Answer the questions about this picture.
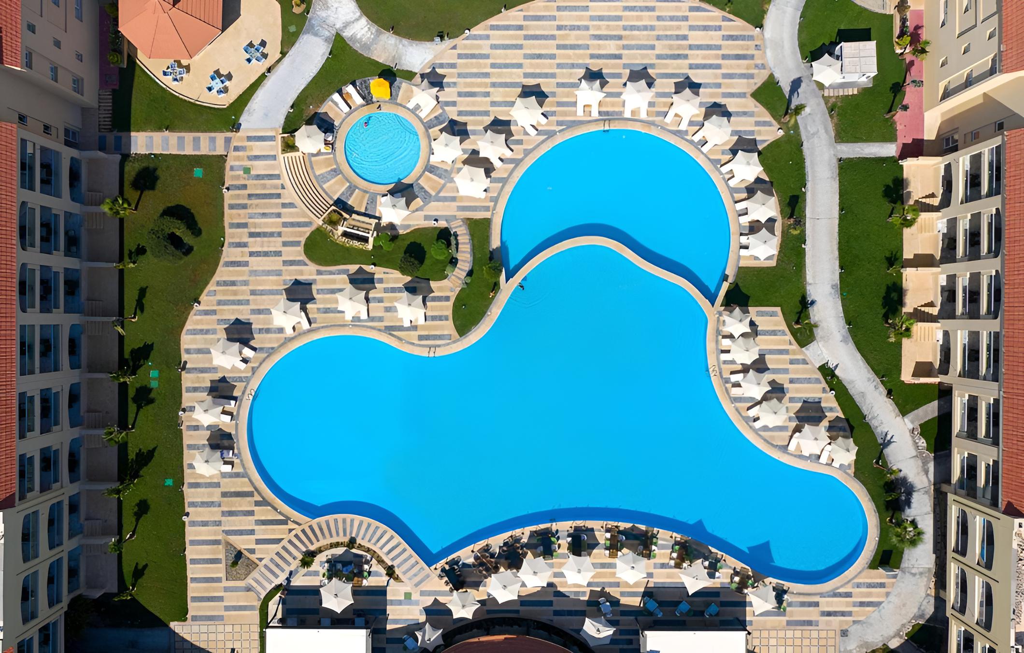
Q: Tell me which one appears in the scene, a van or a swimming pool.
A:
swimming pool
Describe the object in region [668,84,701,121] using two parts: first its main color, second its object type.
white umbrella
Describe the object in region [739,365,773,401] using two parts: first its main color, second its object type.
white umbrella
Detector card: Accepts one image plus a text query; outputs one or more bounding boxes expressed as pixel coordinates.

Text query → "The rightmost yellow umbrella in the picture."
[370,80,392,102]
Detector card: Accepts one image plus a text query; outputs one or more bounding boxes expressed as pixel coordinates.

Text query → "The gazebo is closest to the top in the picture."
[118,0,223,60]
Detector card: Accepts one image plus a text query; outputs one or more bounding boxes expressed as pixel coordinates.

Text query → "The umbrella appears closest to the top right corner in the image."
[810,51,841,86]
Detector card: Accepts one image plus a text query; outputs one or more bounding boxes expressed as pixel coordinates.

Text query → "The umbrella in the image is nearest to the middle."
[393,286,426,324]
